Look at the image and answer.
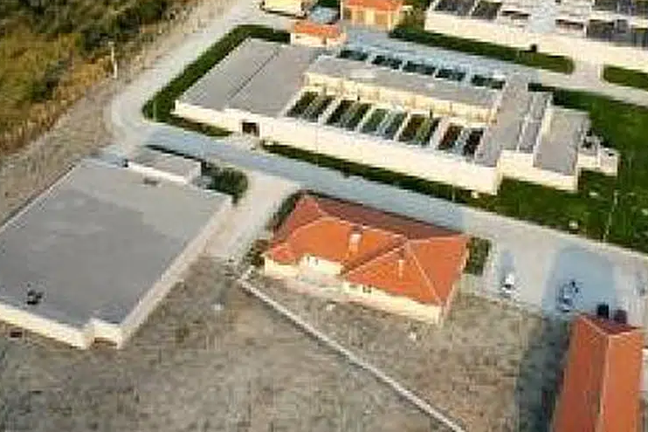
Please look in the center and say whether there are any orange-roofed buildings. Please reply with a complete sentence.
Yes, in the center there is an orange-roofed building.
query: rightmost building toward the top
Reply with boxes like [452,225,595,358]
[576,134,621,188]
